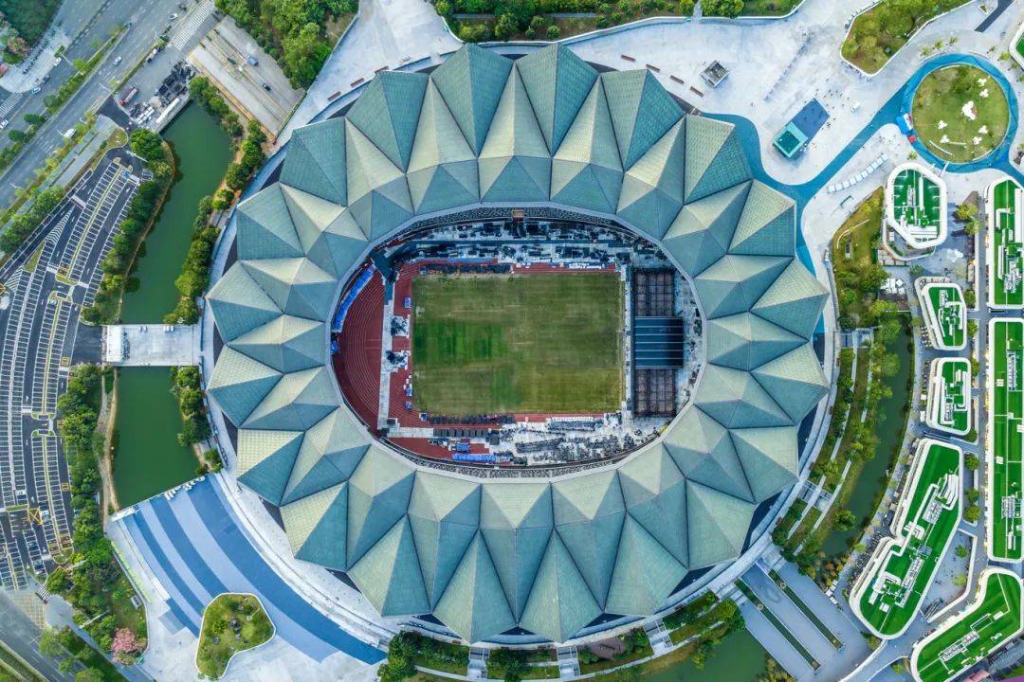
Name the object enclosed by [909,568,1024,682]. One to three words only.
building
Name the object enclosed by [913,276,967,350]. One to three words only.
building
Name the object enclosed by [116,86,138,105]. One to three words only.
vehicle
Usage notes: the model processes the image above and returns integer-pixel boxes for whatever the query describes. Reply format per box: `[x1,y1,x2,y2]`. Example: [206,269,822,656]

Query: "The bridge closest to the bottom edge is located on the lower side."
[720,554,876,682]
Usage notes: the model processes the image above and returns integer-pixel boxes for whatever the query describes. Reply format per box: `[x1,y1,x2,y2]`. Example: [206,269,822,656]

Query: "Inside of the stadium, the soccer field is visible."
[412,273,623,415]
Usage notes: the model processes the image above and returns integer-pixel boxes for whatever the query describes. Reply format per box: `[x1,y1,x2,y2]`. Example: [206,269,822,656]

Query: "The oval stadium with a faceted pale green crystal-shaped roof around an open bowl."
[205,42,830,645]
